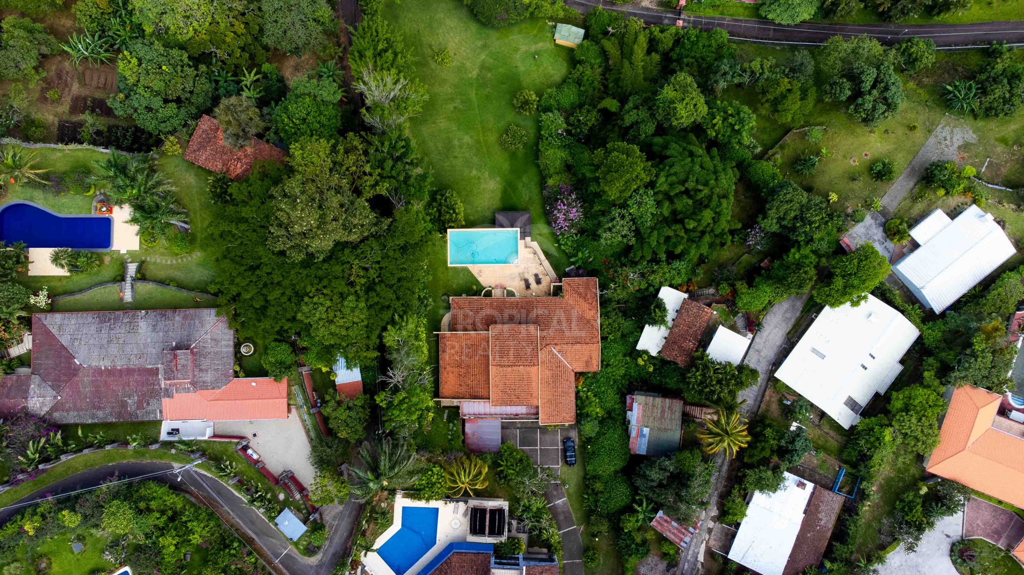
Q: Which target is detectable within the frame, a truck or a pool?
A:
pool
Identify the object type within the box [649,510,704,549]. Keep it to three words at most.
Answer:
shed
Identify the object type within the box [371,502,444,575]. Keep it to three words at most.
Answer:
swimming pool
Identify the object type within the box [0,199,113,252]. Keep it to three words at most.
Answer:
swimming pool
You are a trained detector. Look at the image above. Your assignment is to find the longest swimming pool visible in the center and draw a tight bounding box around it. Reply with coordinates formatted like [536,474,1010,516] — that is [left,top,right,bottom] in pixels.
[447,228,520,267]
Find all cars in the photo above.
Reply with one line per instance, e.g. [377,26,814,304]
[563,439,578,469]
